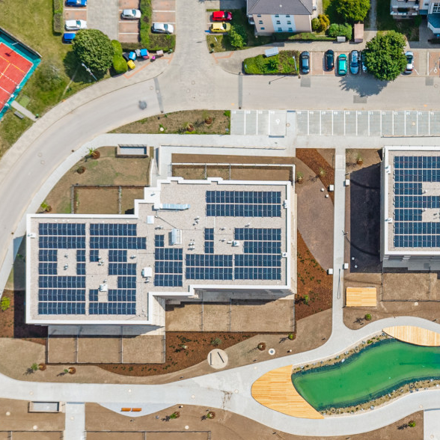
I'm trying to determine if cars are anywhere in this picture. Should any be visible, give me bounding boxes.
[405,51,415,74]
[213,9,233,21]
[153,22,174,34]
[60,32,79,43]
[338,53,348,75]
[349,49,360,74]
[65,18,87,29]
[211,21,231,33]
[325,49,336,71]
[300,51,311,74]
[65,0,87,7]
[122,7,141,19]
